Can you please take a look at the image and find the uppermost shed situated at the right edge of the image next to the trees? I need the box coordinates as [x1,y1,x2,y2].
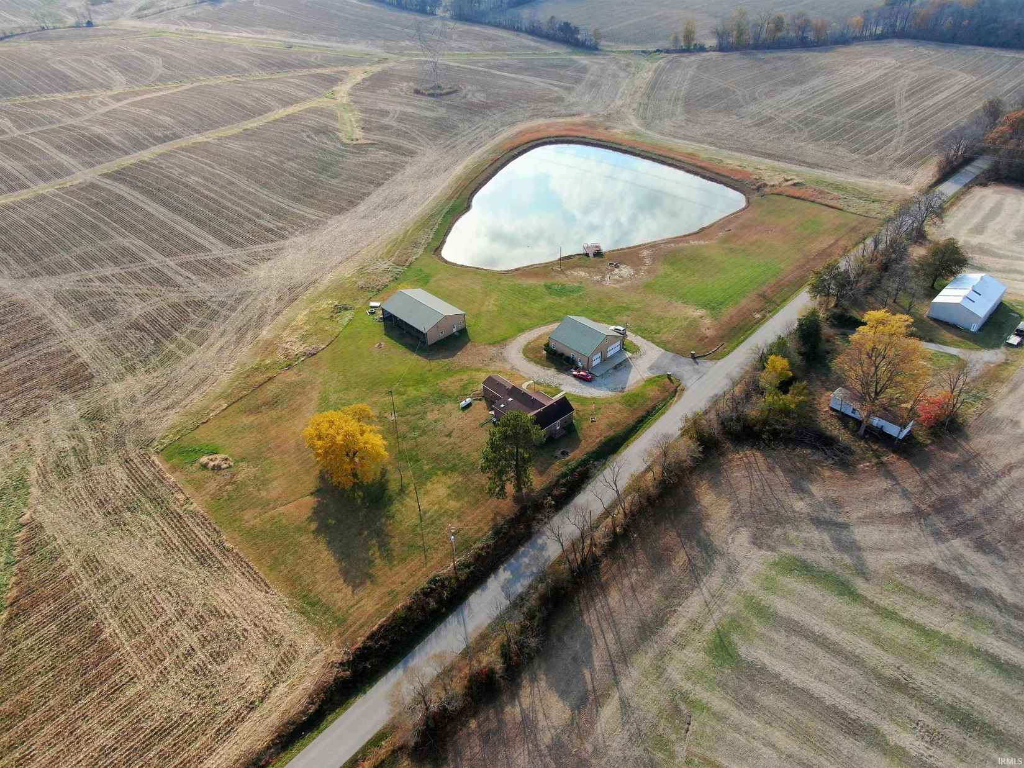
[929,274,1008,331]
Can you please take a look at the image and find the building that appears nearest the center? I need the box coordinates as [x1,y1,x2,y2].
[480,374,575,438]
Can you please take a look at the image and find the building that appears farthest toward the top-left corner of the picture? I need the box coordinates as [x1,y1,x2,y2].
[380,290,467,345]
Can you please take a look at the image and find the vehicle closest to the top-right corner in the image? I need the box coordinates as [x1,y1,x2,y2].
[1007,331,1023,346]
